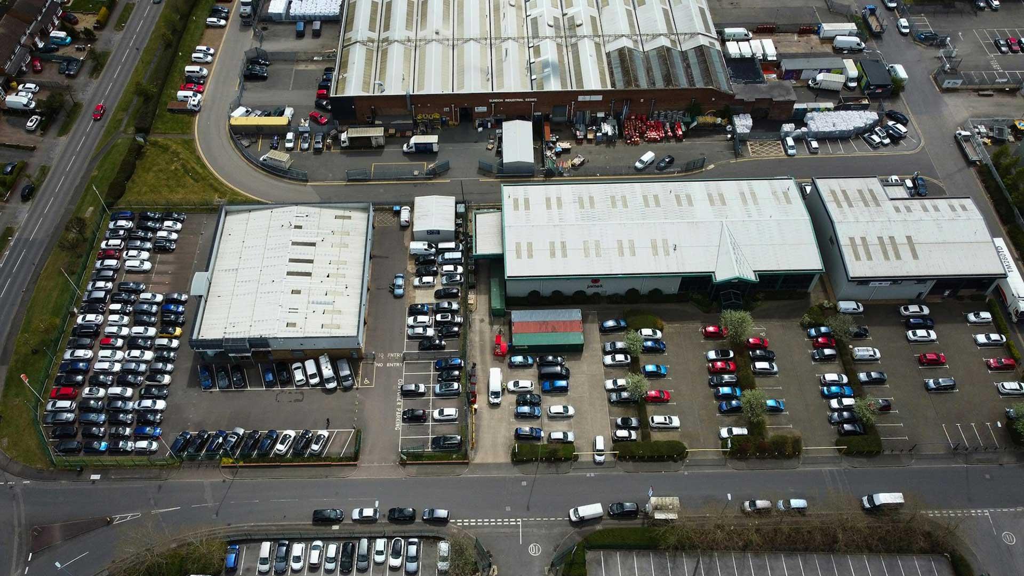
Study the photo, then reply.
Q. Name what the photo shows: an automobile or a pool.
automobile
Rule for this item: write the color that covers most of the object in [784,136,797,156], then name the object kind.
white vehicle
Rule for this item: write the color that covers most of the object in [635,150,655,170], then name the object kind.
white vehicle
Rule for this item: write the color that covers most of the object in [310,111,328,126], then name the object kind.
red car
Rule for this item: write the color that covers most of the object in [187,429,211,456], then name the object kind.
black car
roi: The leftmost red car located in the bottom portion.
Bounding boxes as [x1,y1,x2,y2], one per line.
[51,386,79,400]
